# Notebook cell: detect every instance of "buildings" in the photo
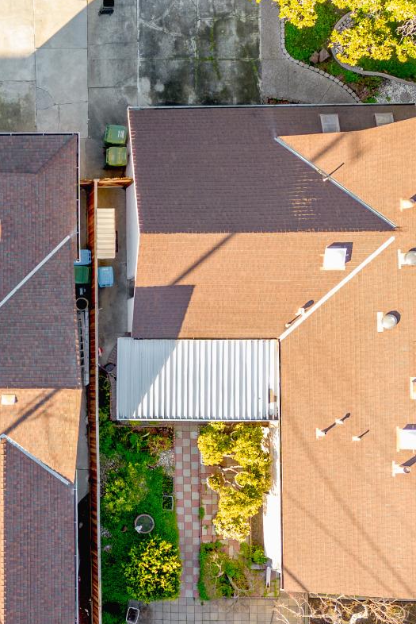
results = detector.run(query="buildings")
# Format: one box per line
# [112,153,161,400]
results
[104,102,416,601]
[0,131,81,624]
